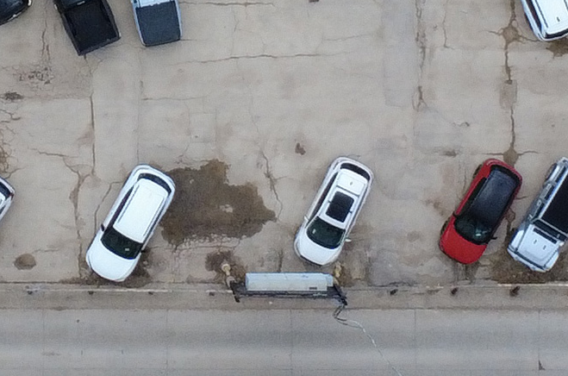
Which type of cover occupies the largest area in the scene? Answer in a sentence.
For the most part, this view shows paved ground.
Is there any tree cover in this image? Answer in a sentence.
No, the picture contains no tree cover.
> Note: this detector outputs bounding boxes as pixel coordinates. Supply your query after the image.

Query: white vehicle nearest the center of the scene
[294,155,372,266]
